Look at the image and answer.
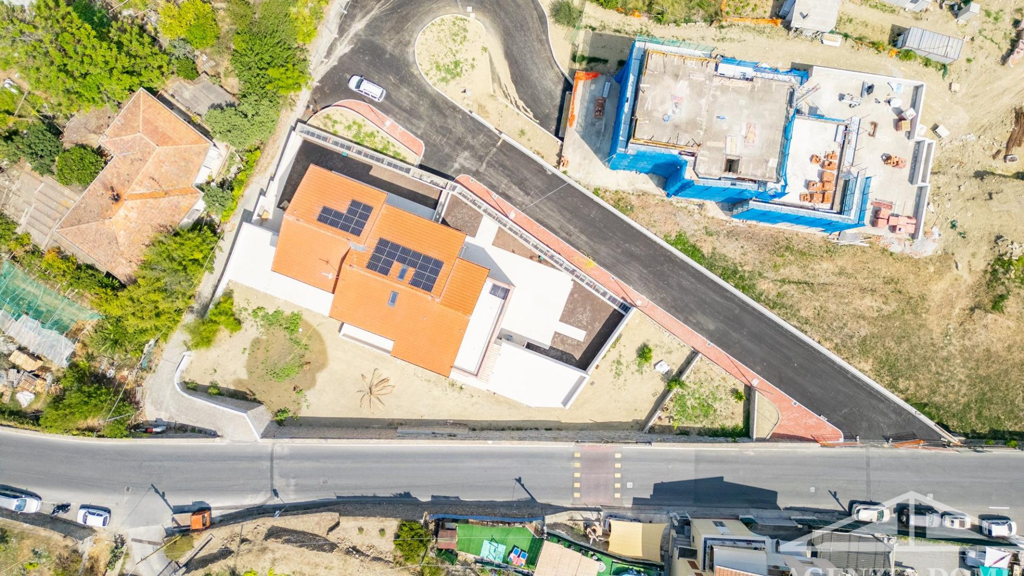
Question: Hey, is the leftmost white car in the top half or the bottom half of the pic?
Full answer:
The leftmost white car is in the bottom half of the image.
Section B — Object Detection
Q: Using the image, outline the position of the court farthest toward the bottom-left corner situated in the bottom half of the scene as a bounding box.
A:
[457,525,543,572]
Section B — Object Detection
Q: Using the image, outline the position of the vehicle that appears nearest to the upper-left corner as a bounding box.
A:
[347,74,388,103]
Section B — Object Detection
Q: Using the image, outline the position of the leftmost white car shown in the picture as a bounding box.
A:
[0,489,42,513]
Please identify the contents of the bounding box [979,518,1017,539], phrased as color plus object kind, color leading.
white car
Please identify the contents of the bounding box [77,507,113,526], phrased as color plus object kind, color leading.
white car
